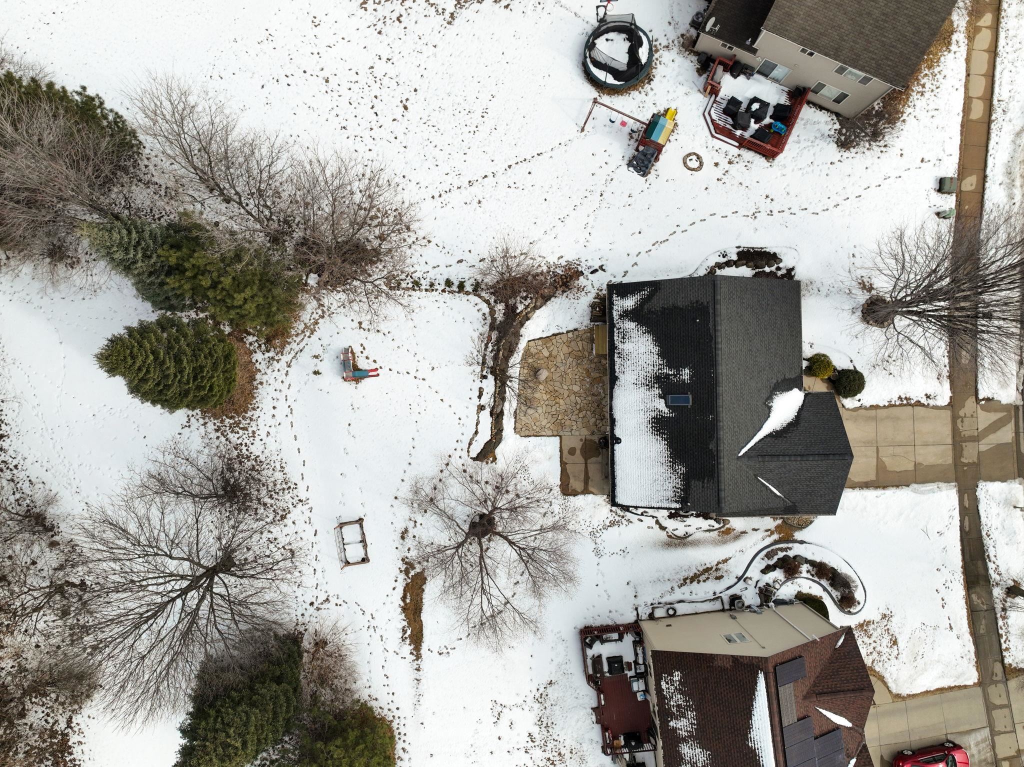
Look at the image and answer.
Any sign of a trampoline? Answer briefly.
Yes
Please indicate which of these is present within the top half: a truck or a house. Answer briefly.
house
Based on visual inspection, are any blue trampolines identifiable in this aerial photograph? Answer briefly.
No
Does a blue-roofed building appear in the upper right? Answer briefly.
No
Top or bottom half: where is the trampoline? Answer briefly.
top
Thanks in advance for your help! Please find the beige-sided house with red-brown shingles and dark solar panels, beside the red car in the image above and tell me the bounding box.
[643,605,879,767]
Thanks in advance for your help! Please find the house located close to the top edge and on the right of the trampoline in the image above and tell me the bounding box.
[694,0,957,119]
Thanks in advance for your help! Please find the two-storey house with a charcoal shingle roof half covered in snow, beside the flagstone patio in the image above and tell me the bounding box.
[602,275,857,517]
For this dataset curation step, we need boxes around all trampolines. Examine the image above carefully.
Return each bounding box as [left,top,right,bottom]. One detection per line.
[584,13,653,92]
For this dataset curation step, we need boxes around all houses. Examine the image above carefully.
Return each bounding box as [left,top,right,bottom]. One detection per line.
[694,0,957,119]
[602,275,857,517]
[643,605,879,767]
